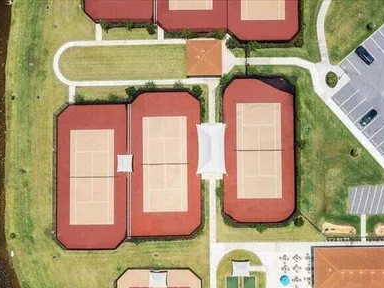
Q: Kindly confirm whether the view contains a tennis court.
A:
Yes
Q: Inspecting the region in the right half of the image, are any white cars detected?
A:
No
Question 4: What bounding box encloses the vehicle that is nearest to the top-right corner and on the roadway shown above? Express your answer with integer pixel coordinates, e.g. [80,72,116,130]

[357,46,373,64]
